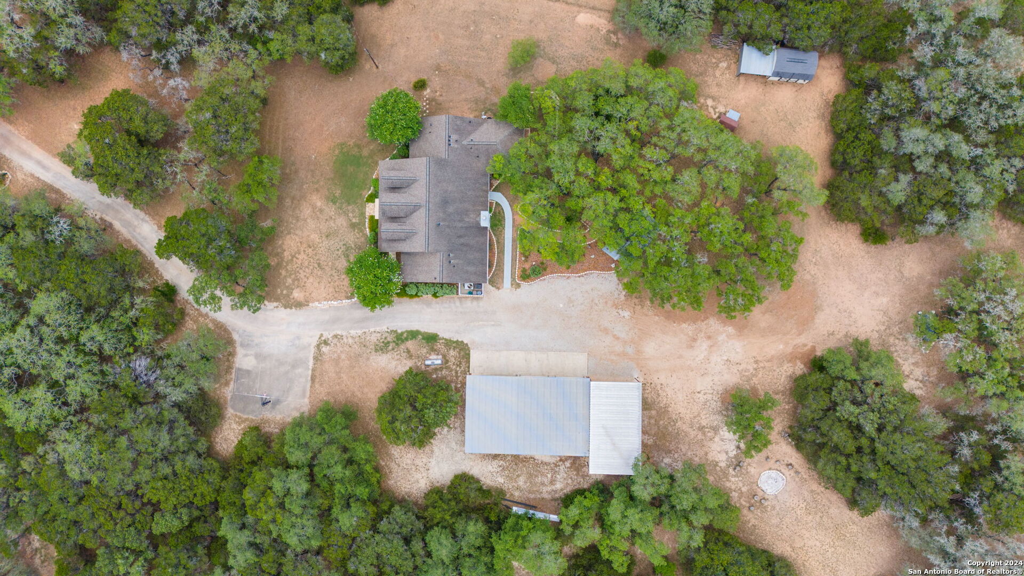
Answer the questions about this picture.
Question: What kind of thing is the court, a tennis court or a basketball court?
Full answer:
The court can be classified as a basketball court.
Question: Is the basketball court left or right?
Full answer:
The basketball court is on the left side of the image.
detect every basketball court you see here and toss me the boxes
[229,335,320,419]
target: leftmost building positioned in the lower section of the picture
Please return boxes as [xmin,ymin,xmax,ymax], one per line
[465,373,590,457]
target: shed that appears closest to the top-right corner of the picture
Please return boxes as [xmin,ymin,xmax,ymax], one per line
[765,47,820,85]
